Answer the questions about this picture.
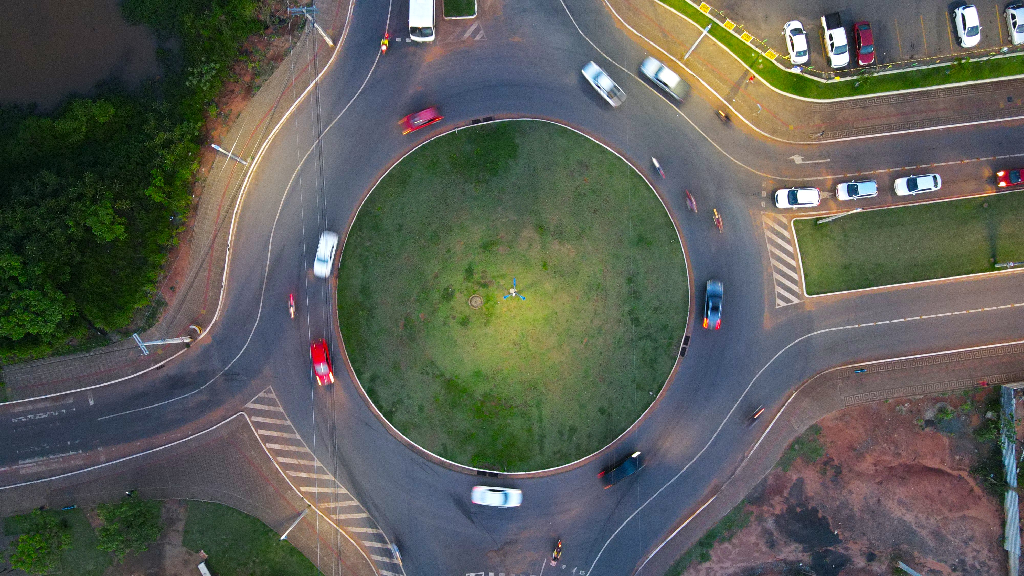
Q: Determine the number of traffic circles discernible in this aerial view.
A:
one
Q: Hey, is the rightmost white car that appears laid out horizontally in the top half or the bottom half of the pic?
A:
top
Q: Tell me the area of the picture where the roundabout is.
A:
center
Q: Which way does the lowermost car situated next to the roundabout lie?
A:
horizontally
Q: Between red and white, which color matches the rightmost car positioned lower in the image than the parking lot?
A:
red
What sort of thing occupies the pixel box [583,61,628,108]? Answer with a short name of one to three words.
vehicle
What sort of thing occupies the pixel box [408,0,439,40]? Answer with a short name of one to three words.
bus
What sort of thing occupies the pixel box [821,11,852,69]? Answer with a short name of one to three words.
vehicle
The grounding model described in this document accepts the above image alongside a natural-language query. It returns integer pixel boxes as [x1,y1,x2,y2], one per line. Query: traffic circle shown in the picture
[329,112,697,480]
